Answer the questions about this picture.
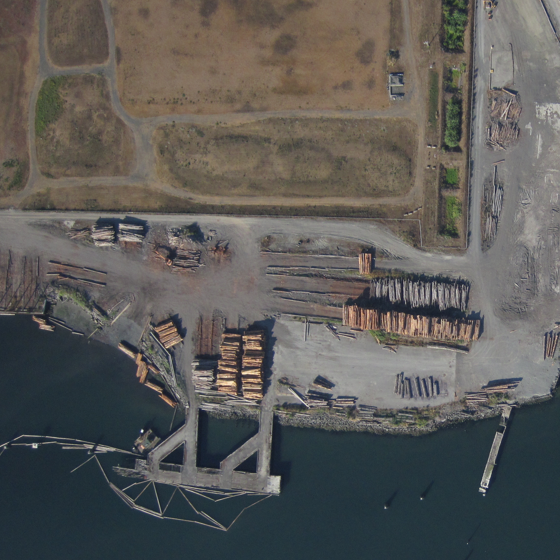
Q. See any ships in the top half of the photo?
No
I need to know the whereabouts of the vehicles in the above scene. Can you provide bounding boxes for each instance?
[154,248,174,267]
[484,0,493,9]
